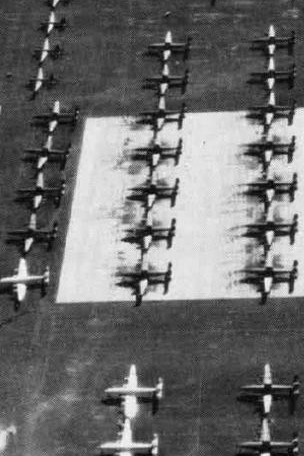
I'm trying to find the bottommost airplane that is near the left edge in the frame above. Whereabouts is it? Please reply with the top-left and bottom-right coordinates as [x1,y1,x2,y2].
[0,258,50,300]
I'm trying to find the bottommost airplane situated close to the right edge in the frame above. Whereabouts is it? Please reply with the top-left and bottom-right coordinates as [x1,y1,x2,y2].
[238,418,298,456]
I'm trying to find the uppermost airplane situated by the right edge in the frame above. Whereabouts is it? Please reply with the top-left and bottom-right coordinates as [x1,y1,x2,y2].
[250,25,294,54]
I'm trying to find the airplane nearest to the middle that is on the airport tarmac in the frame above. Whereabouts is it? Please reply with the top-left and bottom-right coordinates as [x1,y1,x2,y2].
[125,210,176,250]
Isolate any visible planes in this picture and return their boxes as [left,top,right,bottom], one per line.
[33,100,79,131]
[247,166,298,203]
[125,210,176,250]
[246,206,298,245]
[247,128,296,162]
[106,366,163,415]
[7,213,58,251]
[130,170,179,207]
[16,172,65,208]
[144,63,190,93]
[241,363,299,412]
[0,258,50,300]
[238,418,298,456]
[33,37,66,62]
[140,97,187,130]
[249,58,295,89]
[120,253,172,295]
[40,10,72,33]
[148,31,192,60]
[245,250,298,292]
[27,65,60,91]
[100,419,159,456]
[135,132,183,167]
[249,92,297,125]
[49,0,61,6]
[250,25,294,54]
[23,135,71,169]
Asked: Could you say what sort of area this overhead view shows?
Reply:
airport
